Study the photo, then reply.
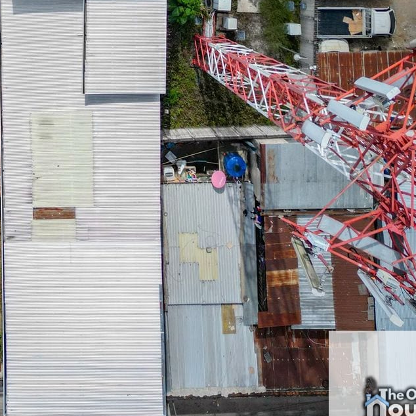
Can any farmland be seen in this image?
No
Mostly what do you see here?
buildings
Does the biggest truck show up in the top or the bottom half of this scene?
top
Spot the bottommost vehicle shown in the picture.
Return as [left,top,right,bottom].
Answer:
[319,37,348,53]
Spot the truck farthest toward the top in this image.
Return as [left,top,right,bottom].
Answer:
[319,4,394,39]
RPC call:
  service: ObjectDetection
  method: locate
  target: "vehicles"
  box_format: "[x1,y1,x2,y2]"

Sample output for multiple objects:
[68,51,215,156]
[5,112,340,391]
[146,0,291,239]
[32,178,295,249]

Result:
[319,4,394,39]
[319,37,348,53]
